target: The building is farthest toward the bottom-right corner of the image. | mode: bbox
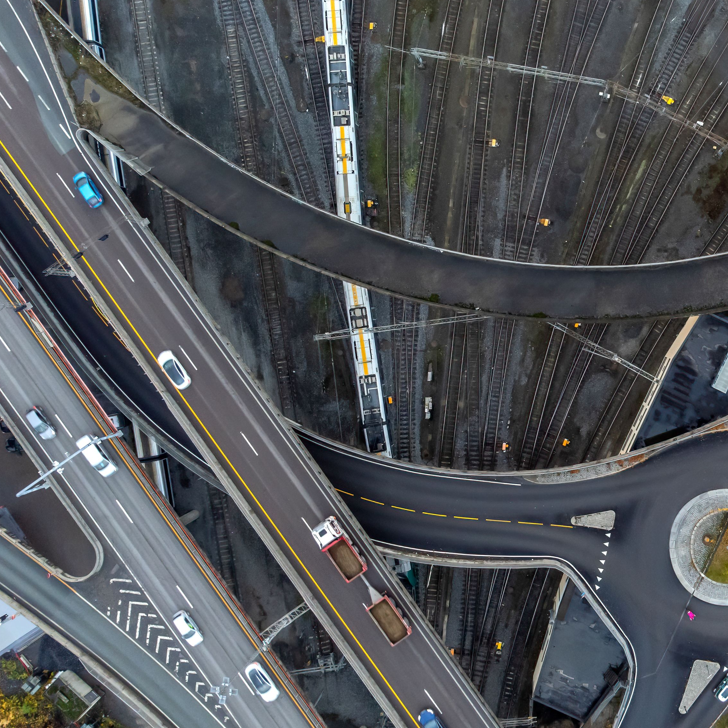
[533,577,627,721]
